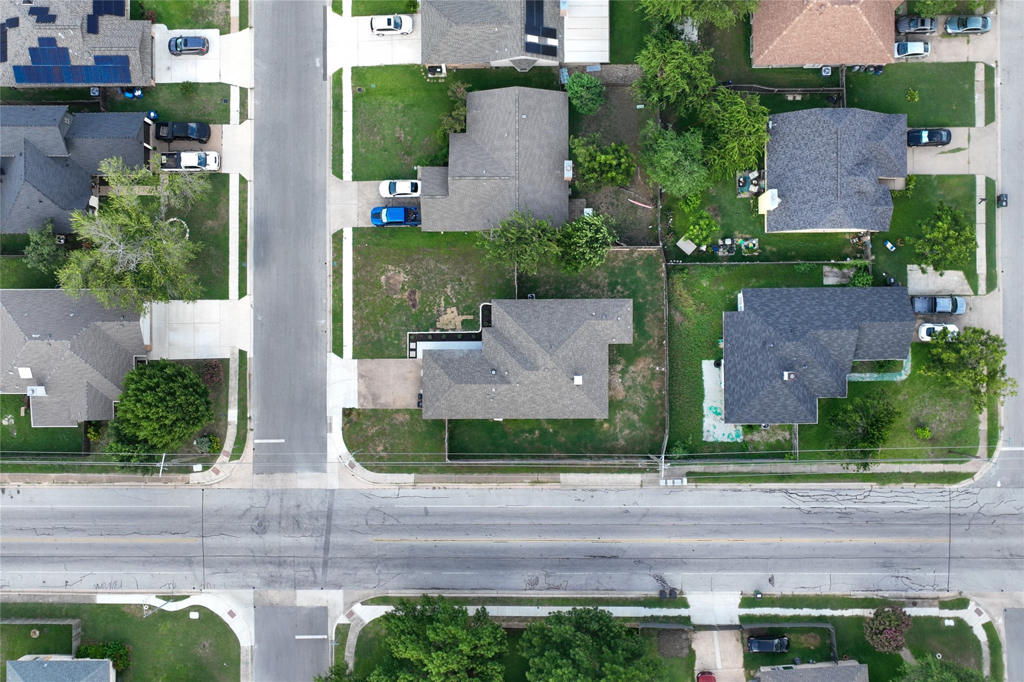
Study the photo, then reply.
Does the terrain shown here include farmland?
No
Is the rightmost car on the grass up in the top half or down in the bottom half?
bottom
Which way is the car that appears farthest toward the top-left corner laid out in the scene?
horizontally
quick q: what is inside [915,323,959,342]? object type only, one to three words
car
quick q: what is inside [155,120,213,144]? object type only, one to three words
truck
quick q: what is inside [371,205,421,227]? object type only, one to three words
truck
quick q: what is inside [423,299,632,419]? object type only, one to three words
house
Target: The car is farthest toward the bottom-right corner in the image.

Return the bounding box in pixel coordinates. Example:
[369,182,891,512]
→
[746,633,788,655]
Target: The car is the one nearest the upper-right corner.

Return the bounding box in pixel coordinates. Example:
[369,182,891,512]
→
[942,15,991,37]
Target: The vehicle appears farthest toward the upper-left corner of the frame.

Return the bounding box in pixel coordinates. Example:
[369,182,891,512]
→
[169,35,211,57]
